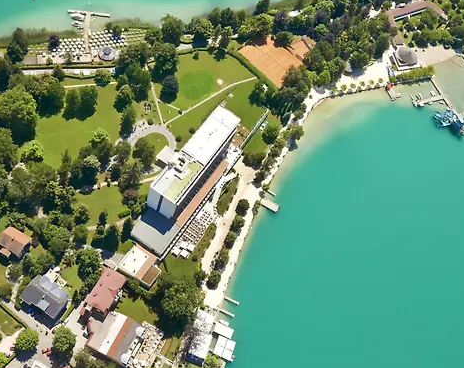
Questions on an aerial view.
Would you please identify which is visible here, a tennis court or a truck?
tennis court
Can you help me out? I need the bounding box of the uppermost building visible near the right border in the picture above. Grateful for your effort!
[383,1,448,29]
